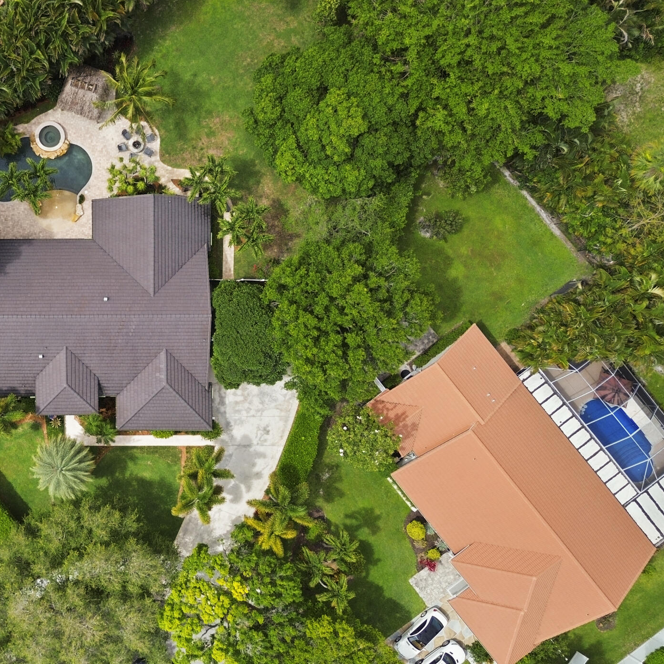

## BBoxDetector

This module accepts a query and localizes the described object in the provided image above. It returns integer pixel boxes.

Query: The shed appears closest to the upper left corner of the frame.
[55,64,119,127]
